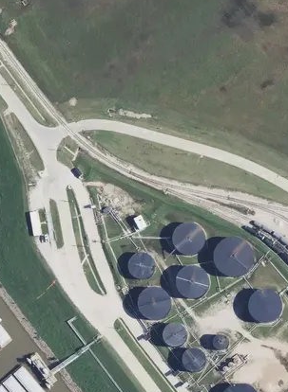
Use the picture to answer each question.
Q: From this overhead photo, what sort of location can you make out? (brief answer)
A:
industrial area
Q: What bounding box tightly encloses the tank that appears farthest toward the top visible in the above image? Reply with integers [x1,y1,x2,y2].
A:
[171,221,207,257]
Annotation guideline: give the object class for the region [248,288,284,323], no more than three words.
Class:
storage tank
